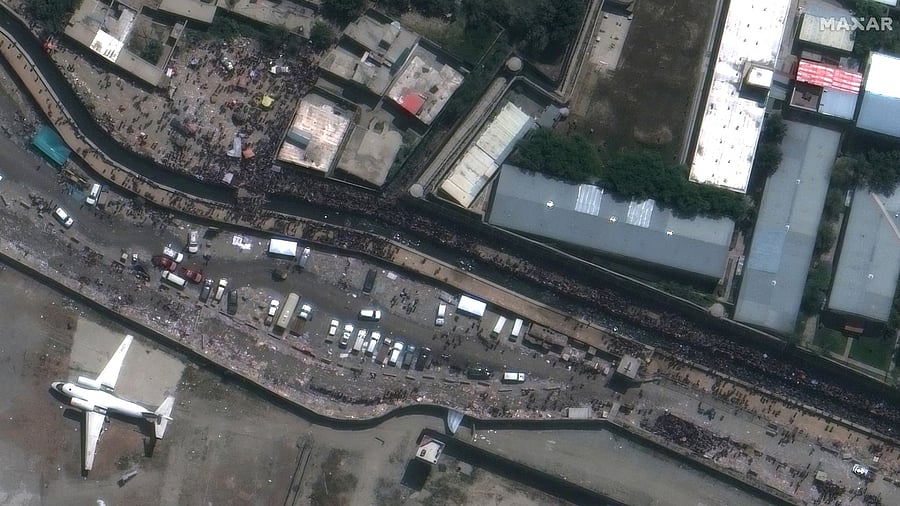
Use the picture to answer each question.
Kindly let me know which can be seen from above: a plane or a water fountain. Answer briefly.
plane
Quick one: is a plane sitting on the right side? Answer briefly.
No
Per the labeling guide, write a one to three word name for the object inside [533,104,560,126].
shed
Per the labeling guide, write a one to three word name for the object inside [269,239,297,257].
tent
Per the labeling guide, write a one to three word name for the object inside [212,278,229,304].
vehicle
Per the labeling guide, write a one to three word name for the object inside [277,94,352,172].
house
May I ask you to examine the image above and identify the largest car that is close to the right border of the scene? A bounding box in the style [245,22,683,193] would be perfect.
[850,461,875,480]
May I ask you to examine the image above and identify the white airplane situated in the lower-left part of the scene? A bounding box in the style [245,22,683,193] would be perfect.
[52,336,174,473]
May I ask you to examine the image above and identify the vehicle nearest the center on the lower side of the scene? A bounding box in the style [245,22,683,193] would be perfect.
[435,302,447,327]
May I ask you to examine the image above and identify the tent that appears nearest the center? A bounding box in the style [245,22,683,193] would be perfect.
[457,294,488,318]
